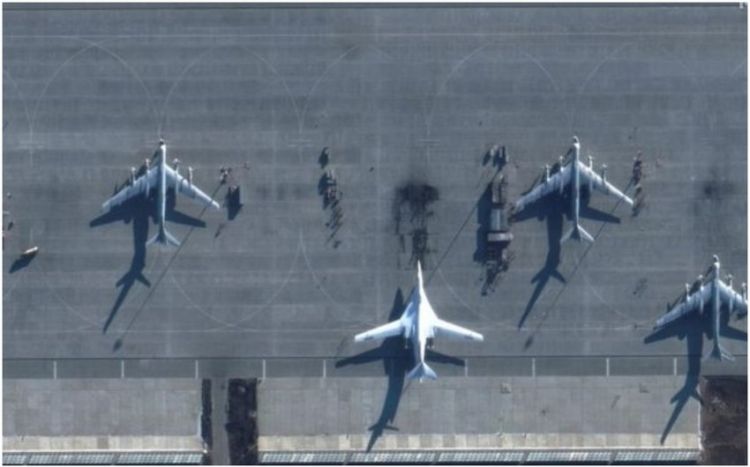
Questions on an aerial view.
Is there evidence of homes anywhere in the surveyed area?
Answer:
No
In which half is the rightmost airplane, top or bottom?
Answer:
bottom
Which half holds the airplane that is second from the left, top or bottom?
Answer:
bottom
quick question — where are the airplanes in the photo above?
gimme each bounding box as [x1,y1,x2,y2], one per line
[357,261,486,382]
[660,251,750,367]
[519,137,634,247]
[104,135,220,249]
